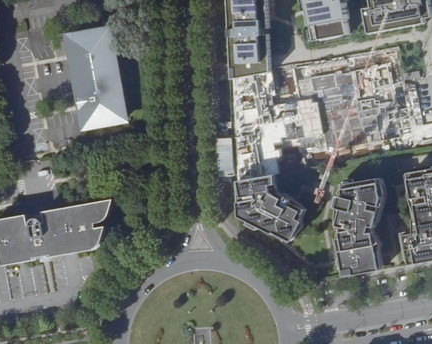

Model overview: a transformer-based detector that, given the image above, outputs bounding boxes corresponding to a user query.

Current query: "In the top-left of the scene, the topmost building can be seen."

[62,26,128,130]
